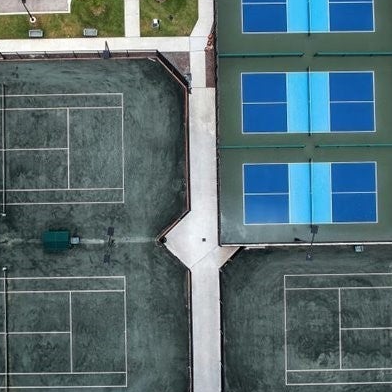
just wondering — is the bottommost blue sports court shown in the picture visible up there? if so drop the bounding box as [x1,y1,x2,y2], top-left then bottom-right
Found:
[243,162,378,225]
